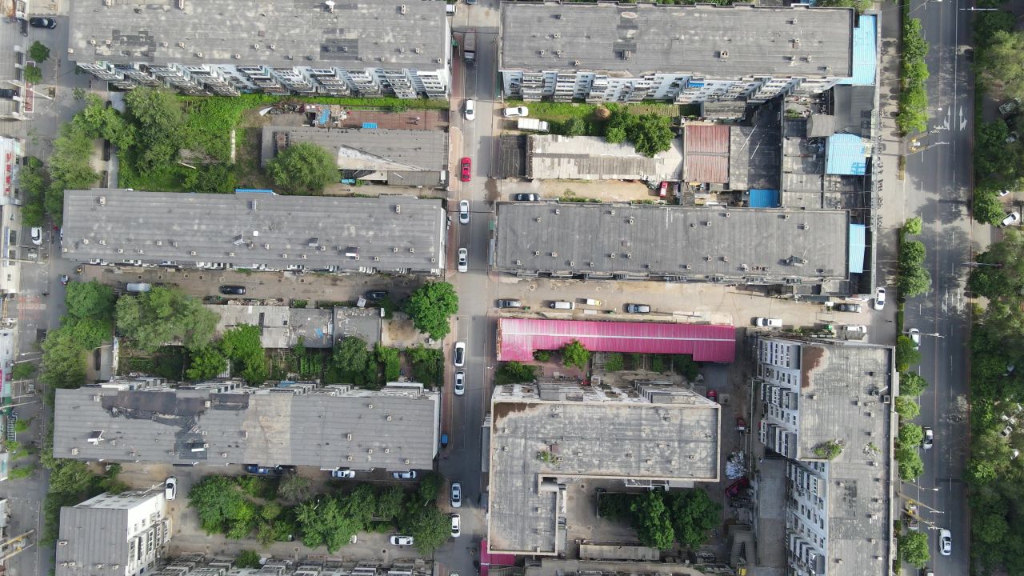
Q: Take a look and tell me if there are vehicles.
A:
Yes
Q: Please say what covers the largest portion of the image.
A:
buildings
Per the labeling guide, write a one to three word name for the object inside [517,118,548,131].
vehicle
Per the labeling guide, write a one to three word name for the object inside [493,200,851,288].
building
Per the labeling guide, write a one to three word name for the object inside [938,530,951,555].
vehicle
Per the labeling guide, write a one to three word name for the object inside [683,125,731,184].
shed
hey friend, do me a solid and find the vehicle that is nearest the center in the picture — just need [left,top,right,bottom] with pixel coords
[497,298,521,310]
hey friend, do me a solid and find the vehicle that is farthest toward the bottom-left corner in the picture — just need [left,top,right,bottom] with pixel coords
[164,478,177,500]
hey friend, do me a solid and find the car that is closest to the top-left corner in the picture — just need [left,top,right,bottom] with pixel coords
[31,16,57,28]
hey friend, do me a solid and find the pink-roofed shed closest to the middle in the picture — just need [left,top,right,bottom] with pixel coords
[496,318,736,362]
